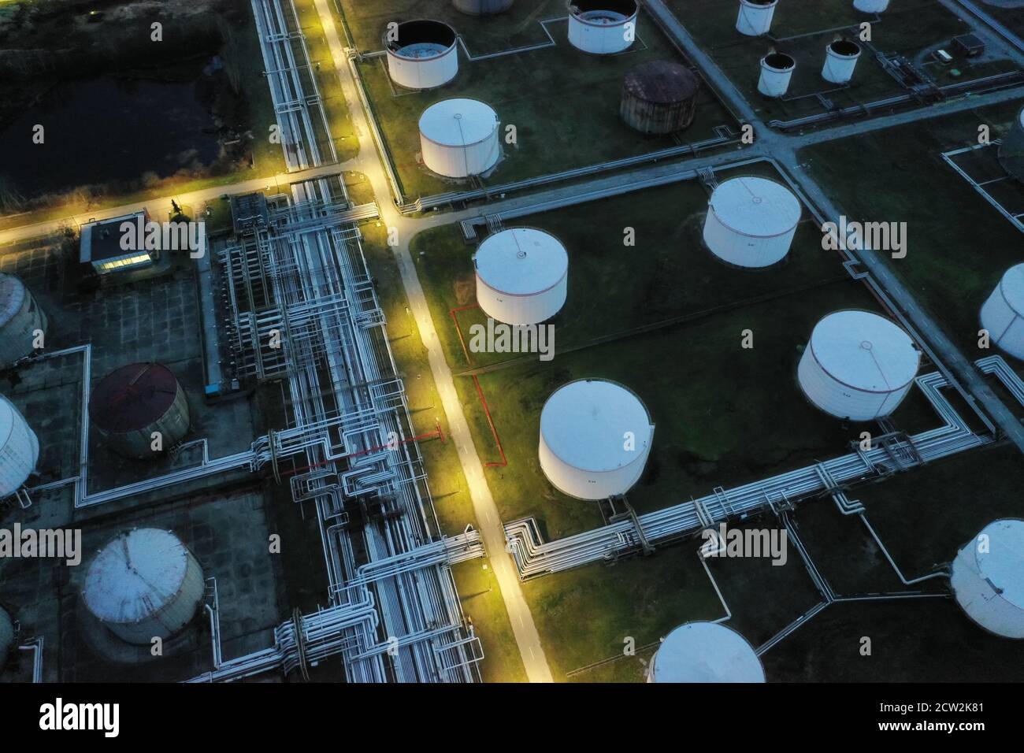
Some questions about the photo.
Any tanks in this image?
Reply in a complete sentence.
Yes, there's a tank here.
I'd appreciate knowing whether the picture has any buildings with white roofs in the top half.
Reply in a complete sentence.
No, no building with a white roof is visible in the top half.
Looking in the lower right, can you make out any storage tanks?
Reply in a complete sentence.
Yes, a storage tank can be seen in the lower right.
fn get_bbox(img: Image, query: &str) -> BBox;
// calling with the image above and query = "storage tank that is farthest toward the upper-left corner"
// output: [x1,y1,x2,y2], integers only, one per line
[0,270,48,369]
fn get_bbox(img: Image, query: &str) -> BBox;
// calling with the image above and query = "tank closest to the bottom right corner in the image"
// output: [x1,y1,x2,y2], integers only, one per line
[948,515,1024,642]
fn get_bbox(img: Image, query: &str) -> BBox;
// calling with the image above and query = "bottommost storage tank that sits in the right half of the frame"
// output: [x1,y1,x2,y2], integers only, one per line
[641,616,769,753]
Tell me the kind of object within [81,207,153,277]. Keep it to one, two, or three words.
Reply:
building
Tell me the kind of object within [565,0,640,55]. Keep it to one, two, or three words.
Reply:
storage tank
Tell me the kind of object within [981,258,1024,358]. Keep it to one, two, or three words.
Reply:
storage tank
